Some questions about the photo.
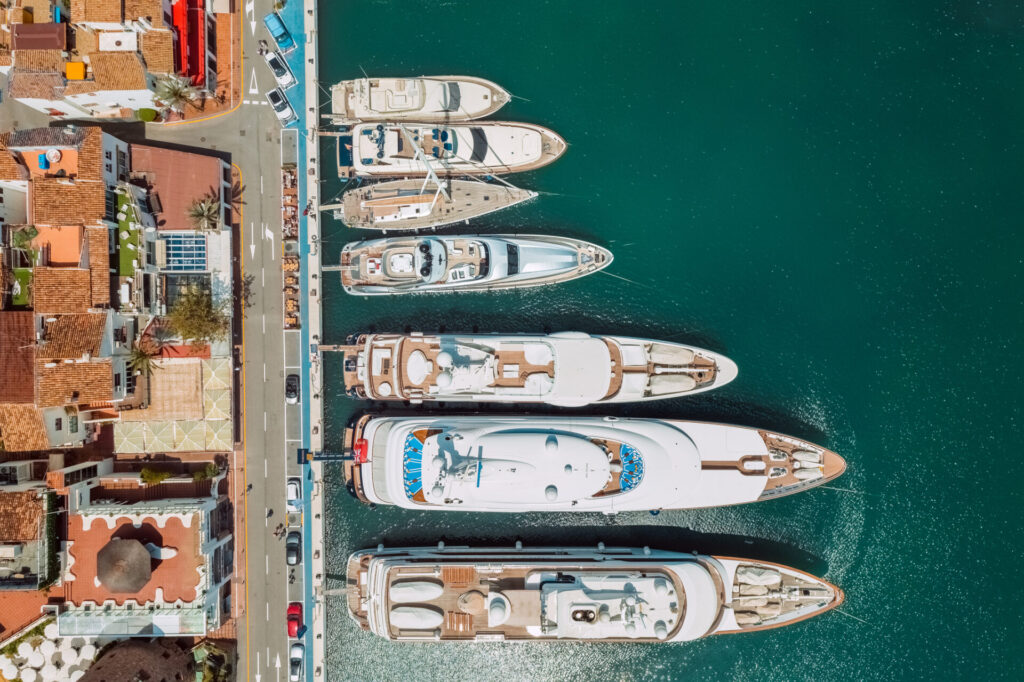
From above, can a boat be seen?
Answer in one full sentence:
Yes, the frame does contain a boat.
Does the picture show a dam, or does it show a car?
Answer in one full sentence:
The one in the frame is a car.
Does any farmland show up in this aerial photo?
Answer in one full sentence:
No, there's no farmland in this view.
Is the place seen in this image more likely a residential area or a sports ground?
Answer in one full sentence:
This image shows a residential area.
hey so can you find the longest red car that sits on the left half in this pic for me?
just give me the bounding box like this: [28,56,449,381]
[286,601,304,635]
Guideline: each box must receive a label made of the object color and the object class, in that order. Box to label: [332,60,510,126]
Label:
white boat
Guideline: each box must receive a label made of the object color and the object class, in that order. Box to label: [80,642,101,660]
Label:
white umbrella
